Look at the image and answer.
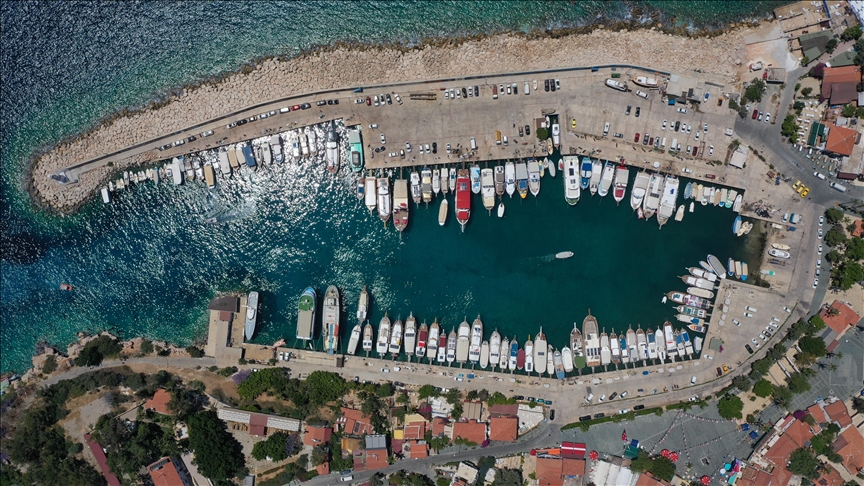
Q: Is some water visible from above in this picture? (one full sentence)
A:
Yes, some water is visible.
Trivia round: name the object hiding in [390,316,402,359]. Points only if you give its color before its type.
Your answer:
white boat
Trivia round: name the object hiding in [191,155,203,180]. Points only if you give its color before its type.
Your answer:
white boat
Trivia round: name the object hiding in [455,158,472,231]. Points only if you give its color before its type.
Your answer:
red boat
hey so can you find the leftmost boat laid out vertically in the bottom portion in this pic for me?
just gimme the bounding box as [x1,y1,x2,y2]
[245,291,259,341]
